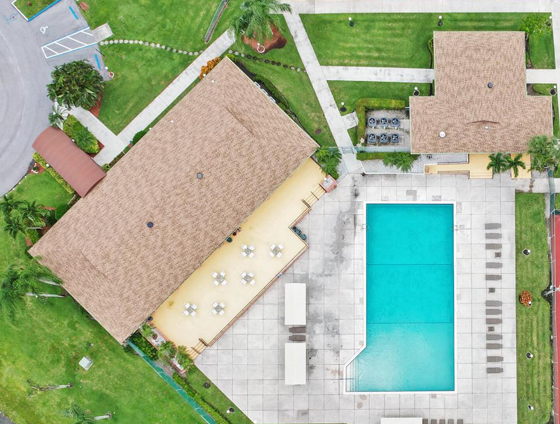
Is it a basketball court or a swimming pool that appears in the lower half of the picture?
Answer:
swimming pool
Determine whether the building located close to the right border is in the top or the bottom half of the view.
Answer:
top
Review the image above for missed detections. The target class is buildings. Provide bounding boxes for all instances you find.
[31,57,319,344]
[410,31,553,154]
